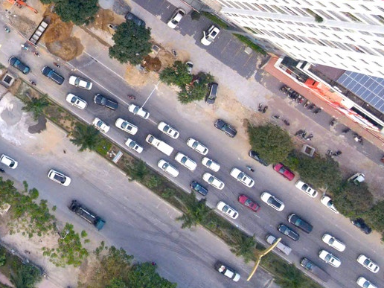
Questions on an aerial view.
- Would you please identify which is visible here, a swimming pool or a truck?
truck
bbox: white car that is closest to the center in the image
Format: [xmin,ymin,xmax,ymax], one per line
[185,136,208,155]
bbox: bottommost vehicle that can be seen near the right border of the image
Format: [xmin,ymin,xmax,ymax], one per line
[356,276,378,288]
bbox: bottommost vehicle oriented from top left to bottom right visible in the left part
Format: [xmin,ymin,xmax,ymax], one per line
[66,198,109,235]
